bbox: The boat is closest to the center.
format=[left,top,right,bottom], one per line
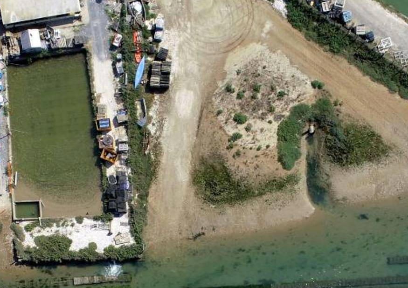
[135,98,148,127]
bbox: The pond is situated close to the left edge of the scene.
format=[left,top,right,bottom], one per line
[6,50,105,220]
